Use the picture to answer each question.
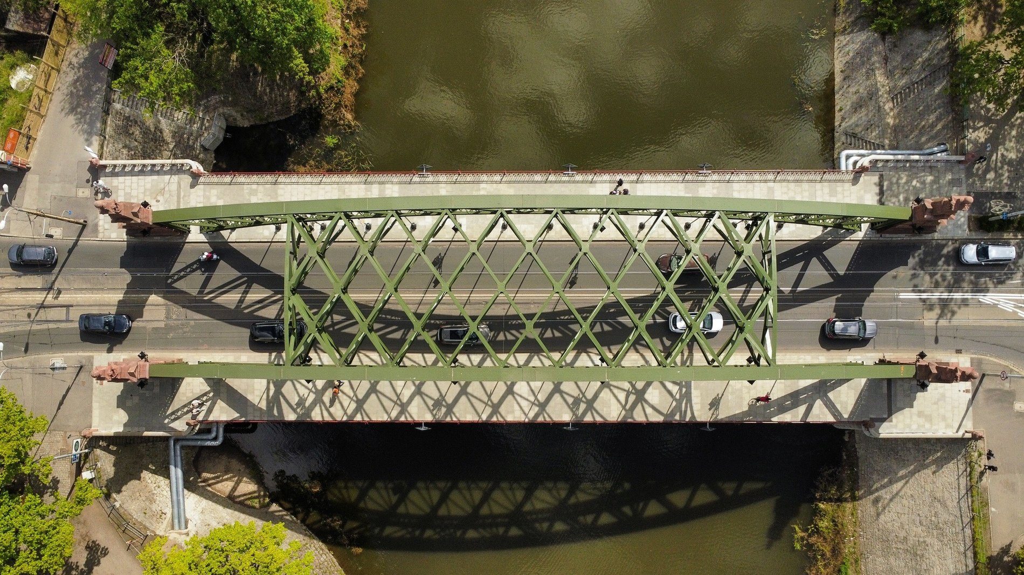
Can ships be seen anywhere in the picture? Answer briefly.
No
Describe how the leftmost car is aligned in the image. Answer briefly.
from side to side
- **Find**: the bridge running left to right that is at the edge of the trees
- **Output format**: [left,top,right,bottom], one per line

[74,153,983,441]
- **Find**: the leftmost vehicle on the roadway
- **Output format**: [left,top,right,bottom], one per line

[10,242,60,268]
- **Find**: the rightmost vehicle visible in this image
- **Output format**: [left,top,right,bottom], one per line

[957,240,1018,266]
